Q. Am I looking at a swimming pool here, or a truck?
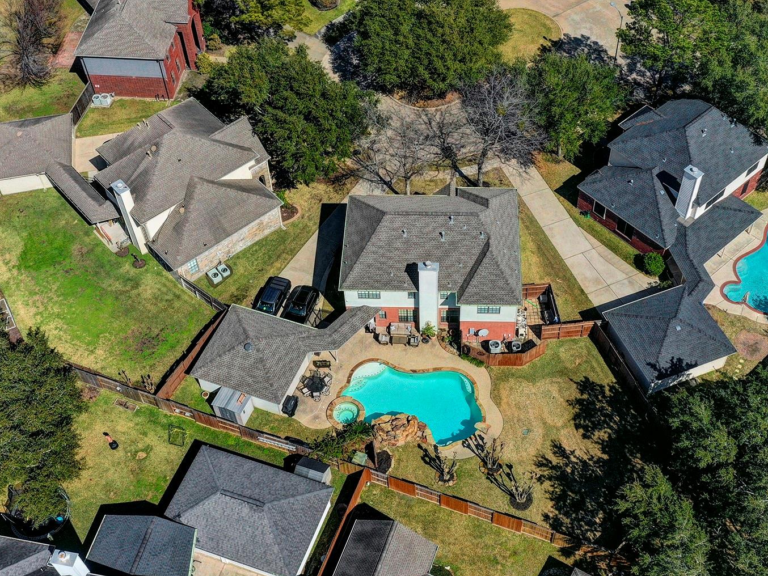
swimming pool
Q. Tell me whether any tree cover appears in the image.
Yes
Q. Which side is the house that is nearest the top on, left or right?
left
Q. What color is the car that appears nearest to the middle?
black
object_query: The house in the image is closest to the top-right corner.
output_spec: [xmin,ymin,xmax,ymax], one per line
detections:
[576,91,768,305]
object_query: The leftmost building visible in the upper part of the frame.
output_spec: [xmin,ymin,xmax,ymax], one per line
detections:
[0,112,121,231]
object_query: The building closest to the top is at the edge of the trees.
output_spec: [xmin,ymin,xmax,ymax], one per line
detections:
[74,0,199,100]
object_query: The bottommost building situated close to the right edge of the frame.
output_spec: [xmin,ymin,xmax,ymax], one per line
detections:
[601,285,736,401]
